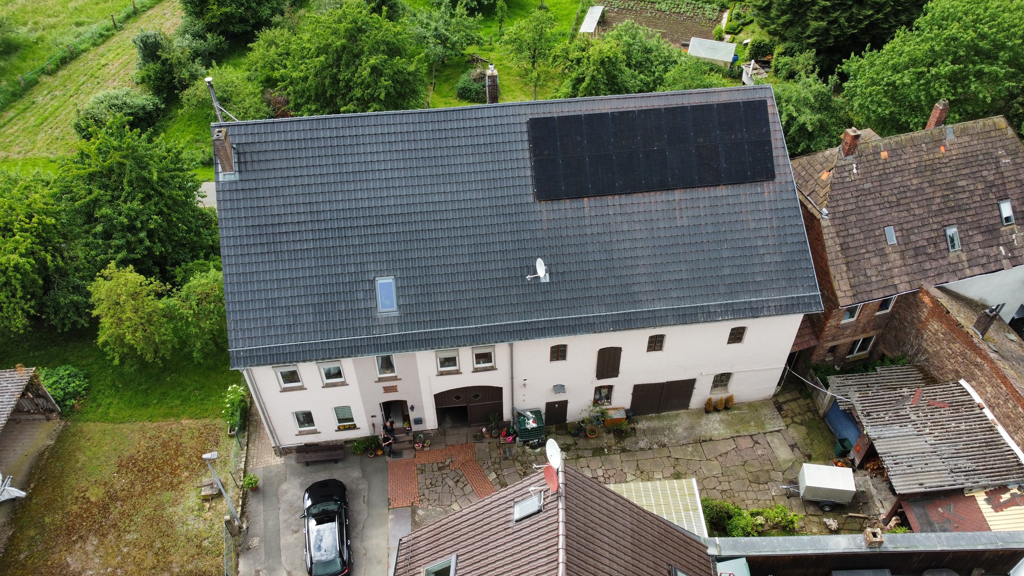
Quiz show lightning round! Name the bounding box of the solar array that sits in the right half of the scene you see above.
[527,100,776,200]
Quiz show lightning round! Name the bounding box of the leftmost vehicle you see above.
[297,480,359,576]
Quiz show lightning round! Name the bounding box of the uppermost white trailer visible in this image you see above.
[771,465,856,517]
